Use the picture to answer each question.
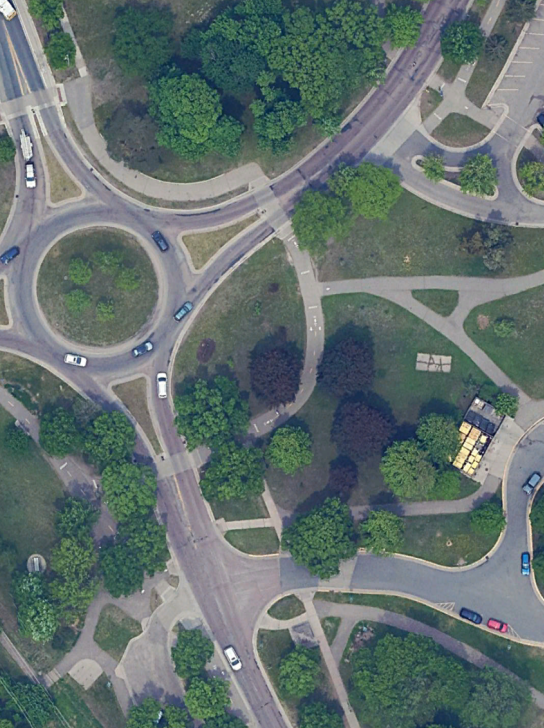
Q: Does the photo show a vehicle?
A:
Yes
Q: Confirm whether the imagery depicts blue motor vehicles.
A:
Yes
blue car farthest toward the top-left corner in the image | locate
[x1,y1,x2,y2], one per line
[0,246,21,264]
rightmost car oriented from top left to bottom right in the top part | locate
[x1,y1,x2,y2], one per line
[152,230,170,252]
